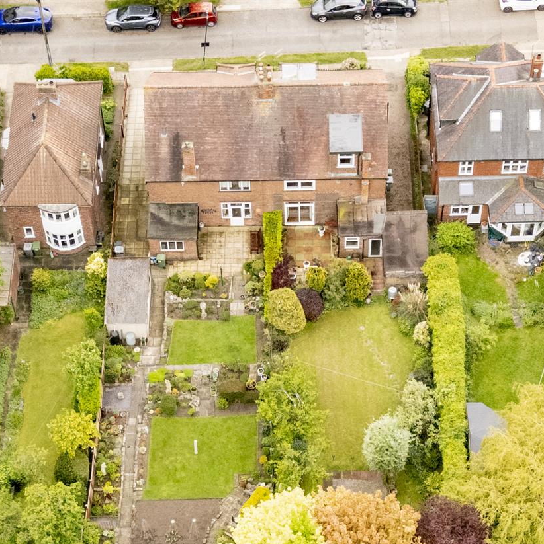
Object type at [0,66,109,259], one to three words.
house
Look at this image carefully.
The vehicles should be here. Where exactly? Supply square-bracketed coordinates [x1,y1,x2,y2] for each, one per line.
[311,0,369,21]
[372,0,417,18]
[499,0,544,13]
[106,0,162,30]
[172,0,219,27]
[0,2,54,32]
